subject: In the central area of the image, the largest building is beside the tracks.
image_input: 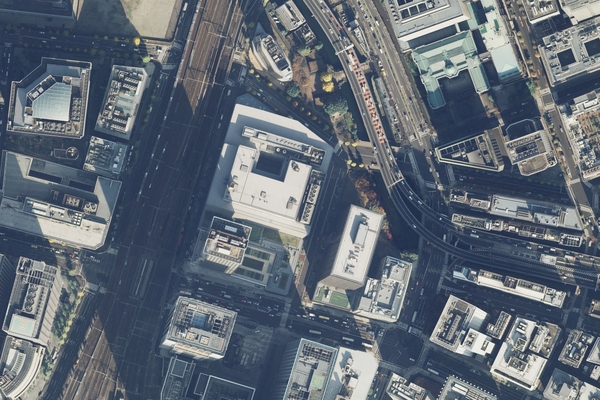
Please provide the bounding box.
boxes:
[204,104,334,242]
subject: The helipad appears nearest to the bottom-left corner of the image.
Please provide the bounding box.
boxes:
[9,314,36,337]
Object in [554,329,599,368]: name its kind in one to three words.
building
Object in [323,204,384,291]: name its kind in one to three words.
building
